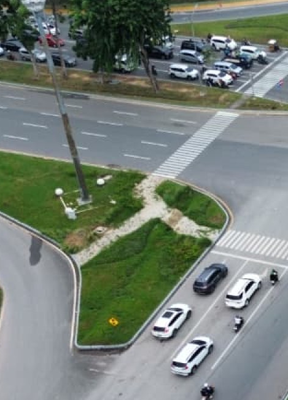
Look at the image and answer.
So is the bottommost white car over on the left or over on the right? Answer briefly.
right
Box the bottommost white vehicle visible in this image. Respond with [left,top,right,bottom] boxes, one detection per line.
[167,337,214,382]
